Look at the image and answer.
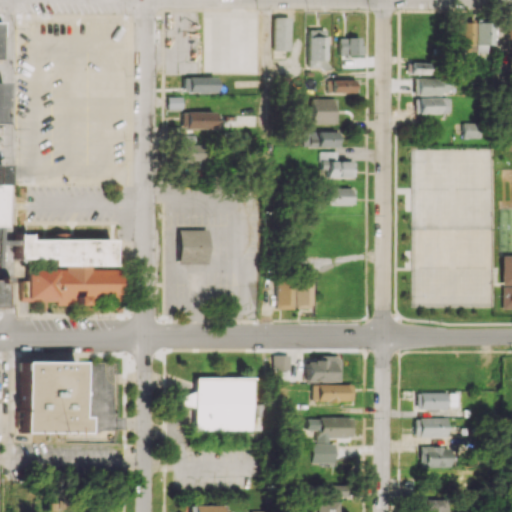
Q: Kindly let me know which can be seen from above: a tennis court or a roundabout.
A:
tennis court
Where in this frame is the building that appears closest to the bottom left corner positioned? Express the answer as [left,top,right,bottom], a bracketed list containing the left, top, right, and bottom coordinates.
[20,361,98,434]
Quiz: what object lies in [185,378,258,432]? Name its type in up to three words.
building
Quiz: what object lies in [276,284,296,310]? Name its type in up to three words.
house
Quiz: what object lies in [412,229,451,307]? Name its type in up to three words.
tennis court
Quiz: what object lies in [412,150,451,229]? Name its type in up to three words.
tennis court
